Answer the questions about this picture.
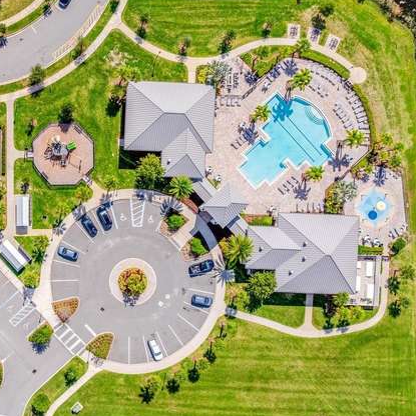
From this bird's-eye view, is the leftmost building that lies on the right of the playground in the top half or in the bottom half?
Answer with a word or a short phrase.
top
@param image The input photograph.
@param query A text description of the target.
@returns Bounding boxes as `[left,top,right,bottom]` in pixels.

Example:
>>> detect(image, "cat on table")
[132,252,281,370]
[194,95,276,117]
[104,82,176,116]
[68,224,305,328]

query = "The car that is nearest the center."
[187,260,213,276]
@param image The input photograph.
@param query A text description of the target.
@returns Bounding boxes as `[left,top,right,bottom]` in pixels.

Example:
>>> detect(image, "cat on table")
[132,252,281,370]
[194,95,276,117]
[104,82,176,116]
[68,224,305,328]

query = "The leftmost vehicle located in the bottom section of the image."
[57,247,80,260]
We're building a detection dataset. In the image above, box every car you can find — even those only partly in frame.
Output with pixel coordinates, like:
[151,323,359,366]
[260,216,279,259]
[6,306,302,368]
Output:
[59,0,70,6]
[187,260,213,276]
[97,204,113,229]
[190,296,212,307]
[80,214,98,236]
[57,247,80,260]
[147,338,162,360]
